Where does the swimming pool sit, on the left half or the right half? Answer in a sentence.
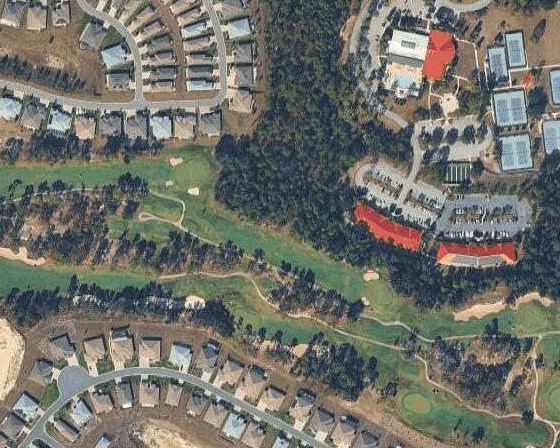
The swimming pool sits on the right side.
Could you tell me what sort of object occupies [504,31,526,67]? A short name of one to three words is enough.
tennis court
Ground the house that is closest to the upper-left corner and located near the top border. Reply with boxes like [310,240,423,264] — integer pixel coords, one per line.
[1,0,24,24]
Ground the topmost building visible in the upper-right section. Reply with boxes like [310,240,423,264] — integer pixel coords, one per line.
[388,29,456,79]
